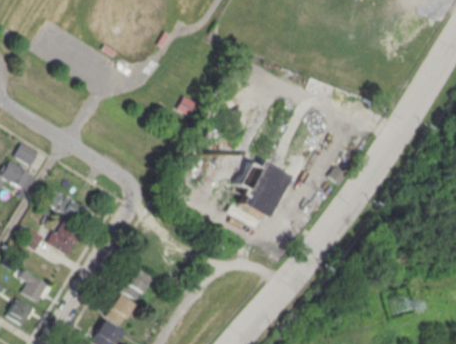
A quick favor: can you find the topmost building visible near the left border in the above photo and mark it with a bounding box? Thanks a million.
[12,142,38,164]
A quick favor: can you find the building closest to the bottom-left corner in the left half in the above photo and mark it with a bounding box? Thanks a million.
[4,296,32,325]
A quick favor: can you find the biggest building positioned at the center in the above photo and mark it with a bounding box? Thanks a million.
[242,162,292,216]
